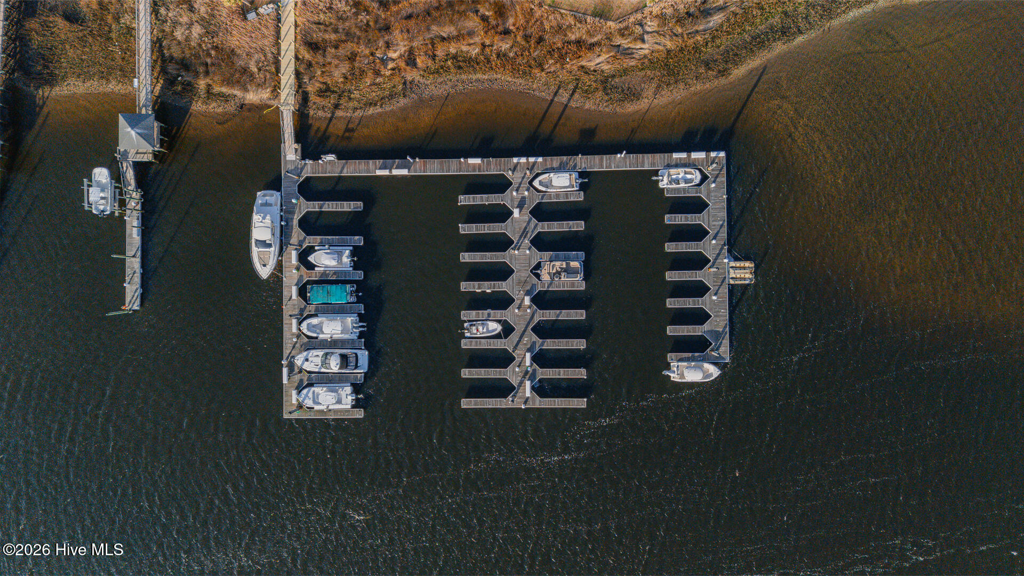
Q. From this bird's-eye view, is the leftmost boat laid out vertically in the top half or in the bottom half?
top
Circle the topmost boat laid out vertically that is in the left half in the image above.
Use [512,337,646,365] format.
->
[89,167,113,222]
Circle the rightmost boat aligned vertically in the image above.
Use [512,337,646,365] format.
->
[251,191,283,279]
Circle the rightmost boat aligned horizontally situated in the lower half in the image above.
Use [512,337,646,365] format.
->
[661,362,721,382]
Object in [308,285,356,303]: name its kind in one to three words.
boat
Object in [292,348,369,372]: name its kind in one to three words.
boat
